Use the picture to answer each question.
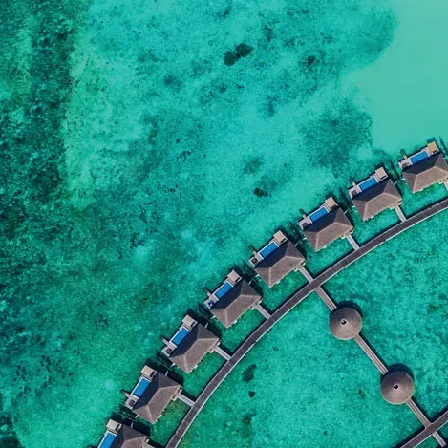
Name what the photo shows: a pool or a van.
pool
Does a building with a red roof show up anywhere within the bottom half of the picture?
No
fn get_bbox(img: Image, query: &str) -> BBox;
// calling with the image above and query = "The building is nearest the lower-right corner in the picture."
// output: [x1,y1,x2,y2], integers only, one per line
[382,370,414,403]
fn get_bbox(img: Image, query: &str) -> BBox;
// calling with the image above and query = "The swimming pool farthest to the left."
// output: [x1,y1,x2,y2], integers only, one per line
[100,430,120,448]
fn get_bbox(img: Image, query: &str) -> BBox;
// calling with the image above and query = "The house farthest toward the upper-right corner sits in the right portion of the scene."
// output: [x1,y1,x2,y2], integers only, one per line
[399,143,448,193]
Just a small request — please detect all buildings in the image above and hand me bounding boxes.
[299,198,357,252]
[250,232,309,288]
[124,365,185,424]
[205,271,265,328]
[329,307,362,339]
[382,370,414,403]
[347,169,405,221]
[164,316,223,374]
[108,418,150,448]
[399,143,448,193]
